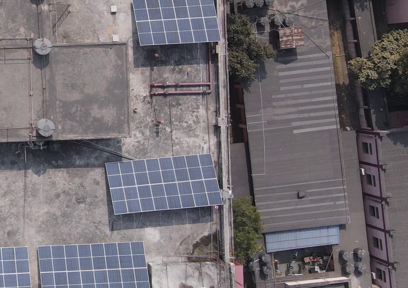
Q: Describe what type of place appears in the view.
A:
industrial area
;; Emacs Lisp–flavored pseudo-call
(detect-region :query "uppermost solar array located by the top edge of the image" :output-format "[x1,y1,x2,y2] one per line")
[132,0,220,45]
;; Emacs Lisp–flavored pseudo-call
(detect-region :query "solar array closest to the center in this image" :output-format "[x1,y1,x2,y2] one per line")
[105,154,222,215]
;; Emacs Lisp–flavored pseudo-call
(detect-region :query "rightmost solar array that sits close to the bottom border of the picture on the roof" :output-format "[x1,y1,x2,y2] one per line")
[37,242,150,288]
